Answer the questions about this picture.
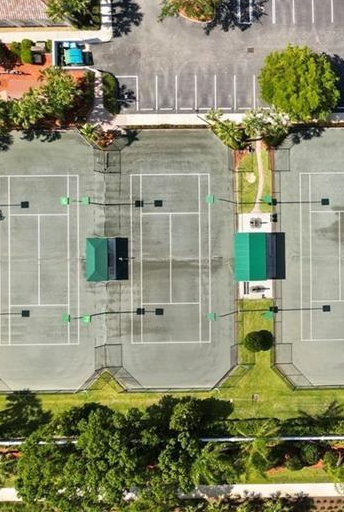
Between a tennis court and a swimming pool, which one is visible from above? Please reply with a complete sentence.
It is a tennis court that can be seen here.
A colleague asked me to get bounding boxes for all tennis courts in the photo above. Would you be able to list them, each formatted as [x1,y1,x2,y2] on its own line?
[0,131,103,391]
[275,125,344,386]
[103,127,237,390]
